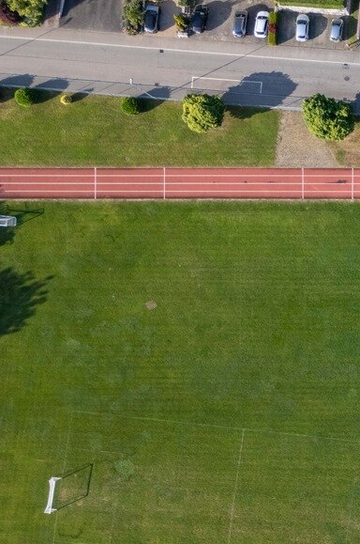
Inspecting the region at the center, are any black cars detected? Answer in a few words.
No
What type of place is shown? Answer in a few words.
sports ground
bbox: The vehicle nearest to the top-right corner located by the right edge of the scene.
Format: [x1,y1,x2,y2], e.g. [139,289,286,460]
[330,18,345,44]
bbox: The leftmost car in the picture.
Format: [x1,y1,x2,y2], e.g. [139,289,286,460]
[143,3,160,34]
